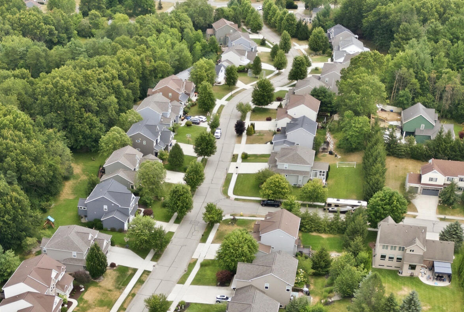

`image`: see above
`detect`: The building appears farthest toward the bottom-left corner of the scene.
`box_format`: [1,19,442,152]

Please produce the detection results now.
[0,251,75,312]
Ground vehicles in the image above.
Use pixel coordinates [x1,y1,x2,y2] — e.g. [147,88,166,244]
[182,113,194,119]
[325,197,369,213]
[196,115,208,123]
[261,198,282,208]
[187,116,202,125]
[215,129,222,137]
[214,294,233,303]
